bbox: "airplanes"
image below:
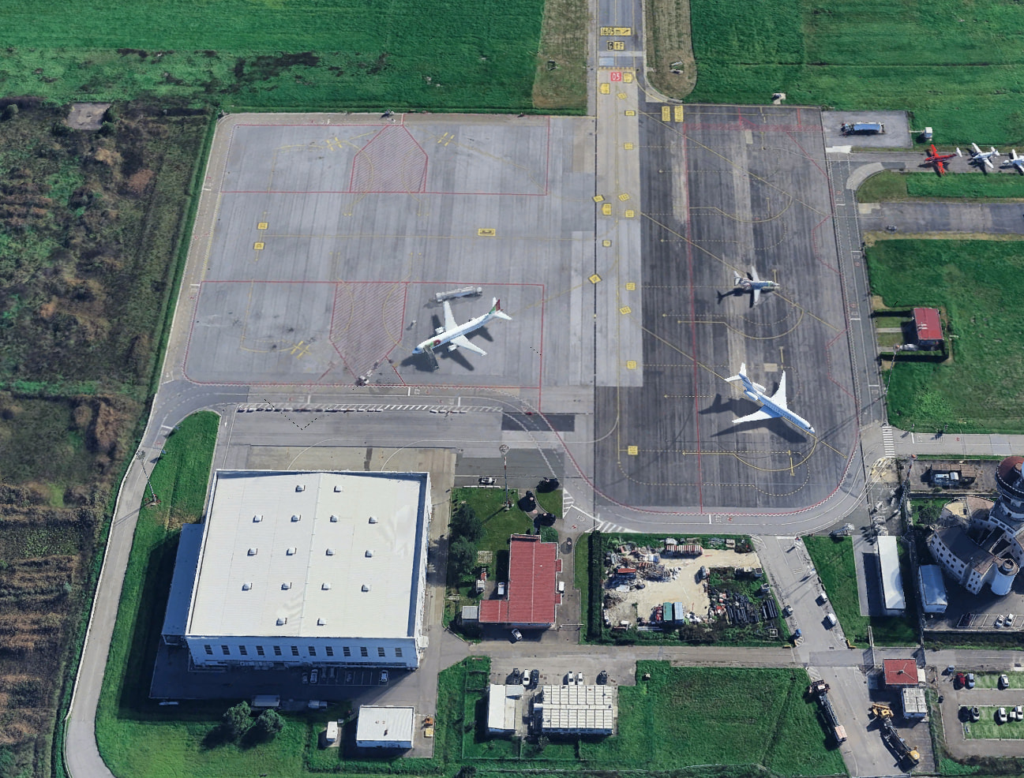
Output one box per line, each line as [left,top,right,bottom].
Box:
[971,142,1004,169]
[1001,147,1024,173]
[728,357,815,432]
[733,267,779,297]
[411,291,512,353]
[923,144,964,172]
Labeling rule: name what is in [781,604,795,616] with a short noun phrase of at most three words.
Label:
vehicle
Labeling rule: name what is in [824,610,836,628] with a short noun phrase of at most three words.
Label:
vehicle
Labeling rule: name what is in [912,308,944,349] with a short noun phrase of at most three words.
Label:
house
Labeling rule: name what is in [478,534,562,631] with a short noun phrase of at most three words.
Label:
building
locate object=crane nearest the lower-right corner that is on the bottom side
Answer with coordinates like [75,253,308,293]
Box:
[870,704,920,763]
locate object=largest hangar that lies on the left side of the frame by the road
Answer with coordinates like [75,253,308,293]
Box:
[186,471,432,669]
